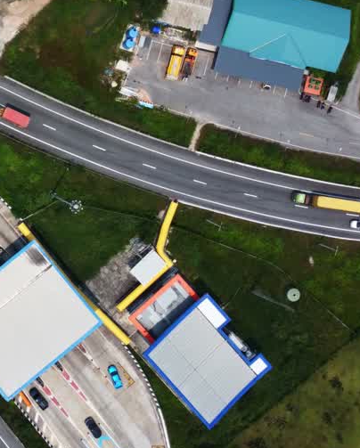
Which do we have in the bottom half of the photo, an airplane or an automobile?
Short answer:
automobile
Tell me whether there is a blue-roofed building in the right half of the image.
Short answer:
Yes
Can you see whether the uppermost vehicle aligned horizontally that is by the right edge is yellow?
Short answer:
Yes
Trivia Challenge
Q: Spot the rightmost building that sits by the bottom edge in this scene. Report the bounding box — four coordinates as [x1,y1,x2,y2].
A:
[138,291,272,428]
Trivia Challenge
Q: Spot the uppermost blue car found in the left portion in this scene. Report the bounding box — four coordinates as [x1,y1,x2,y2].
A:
[108,366,123,388]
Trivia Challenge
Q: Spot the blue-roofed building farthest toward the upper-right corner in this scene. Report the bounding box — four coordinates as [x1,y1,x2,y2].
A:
[196,0,351,91]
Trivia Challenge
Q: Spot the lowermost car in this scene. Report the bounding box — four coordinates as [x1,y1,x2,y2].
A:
[85,416,103,439]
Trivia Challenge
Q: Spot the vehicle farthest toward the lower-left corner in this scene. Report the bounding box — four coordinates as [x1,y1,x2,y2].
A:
[30,388,48,409]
